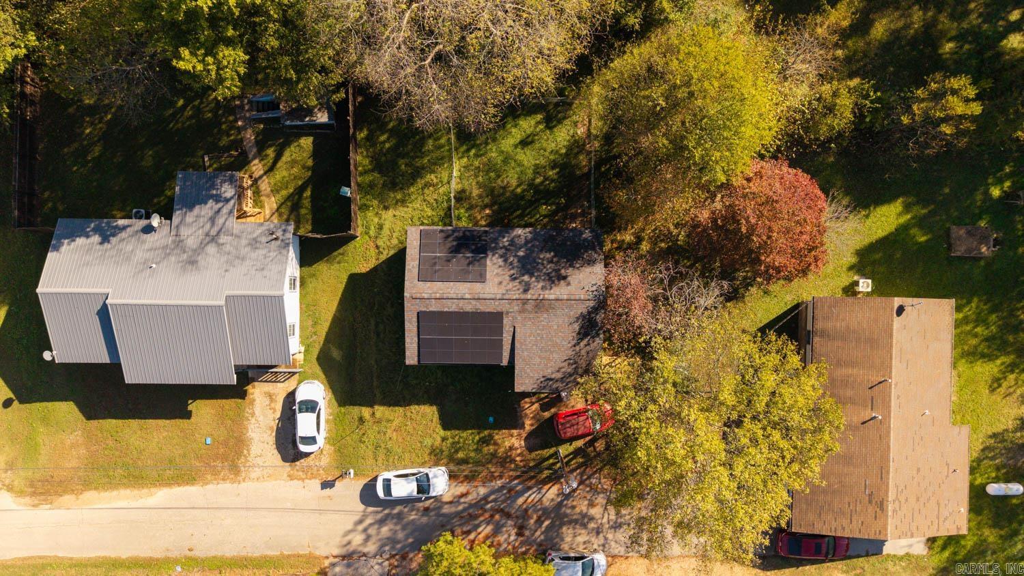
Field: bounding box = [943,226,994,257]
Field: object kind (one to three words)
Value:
shed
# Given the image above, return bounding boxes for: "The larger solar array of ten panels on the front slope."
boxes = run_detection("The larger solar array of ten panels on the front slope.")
[418,312,503,364]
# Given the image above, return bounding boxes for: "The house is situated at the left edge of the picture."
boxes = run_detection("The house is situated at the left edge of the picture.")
[37,171,310,384]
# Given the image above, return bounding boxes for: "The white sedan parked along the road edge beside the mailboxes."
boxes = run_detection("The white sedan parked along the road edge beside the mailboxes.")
[376,465,450,499]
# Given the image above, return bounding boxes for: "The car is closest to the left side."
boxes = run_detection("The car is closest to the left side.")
[294,378,328,453]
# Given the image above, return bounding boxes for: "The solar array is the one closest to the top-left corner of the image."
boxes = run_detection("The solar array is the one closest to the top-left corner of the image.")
[418,228,487,280]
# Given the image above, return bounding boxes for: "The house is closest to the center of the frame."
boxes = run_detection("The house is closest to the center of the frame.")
[404,226,604,393]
